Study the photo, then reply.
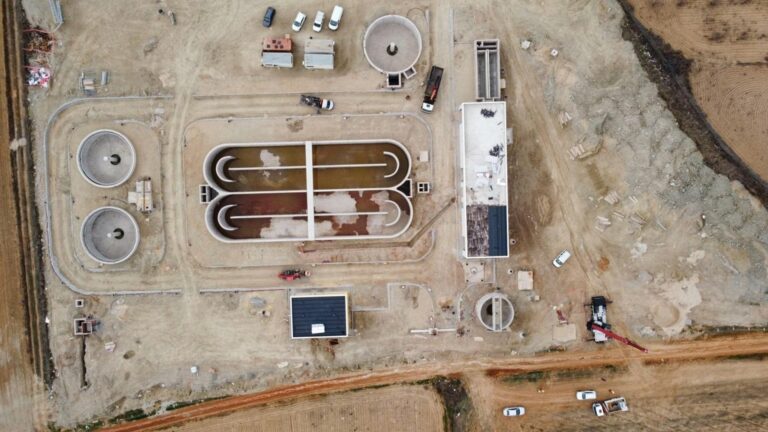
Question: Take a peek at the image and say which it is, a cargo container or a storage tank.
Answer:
storage tank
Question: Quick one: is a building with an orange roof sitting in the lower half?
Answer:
No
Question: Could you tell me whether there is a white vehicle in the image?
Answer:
Yes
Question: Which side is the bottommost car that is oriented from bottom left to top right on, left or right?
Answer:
right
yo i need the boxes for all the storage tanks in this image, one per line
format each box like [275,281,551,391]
[474,39,505,102]
[81,206,142,265]
[364,14,422,74]
[476,292,514,332]
[77,129,139,188]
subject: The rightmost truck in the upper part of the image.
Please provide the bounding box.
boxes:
[421,65,444,115]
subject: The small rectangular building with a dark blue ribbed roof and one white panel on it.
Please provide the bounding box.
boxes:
[290,292,350,338]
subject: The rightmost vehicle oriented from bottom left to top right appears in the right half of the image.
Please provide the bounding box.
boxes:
[551,248,572,268]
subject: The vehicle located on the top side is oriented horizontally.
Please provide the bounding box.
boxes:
[300,94,337,115]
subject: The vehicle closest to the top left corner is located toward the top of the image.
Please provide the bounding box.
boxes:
[262,6,277,28]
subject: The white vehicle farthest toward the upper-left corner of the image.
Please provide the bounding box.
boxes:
[292,11,307,32]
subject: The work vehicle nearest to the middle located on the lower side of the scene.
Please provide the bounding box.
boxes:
[276,268,304,280]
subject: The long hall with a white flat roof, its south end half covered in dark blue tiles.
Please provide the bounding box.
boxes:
[458,101,510,258]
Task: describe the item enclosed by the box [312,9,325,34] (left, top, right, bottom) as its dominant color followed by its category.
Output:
white vehicle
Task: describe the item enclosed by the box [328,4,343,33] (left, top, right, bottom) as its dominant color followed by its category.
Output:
white vehicle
